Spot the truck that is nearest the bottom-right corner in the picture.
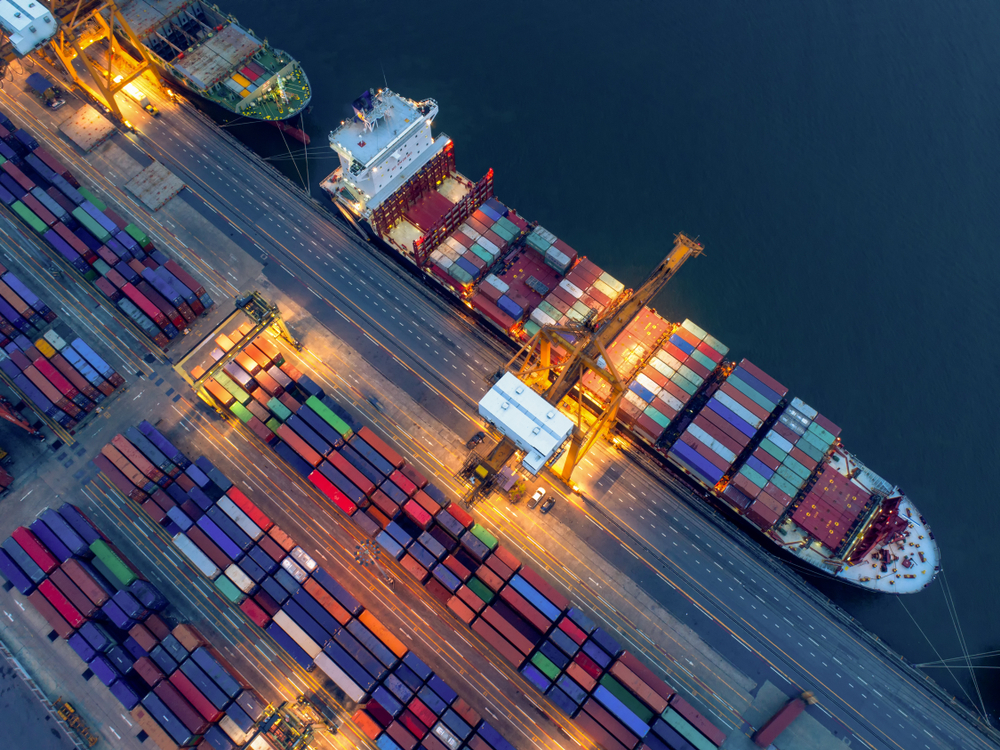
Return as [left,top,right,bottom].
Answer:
[755,687,819,748]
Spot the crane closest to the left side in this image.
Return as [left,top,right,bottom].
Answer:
[0,0,174,128]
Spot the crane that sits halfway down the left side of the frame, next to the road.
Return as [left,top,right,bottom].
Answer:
[168,289,306,422]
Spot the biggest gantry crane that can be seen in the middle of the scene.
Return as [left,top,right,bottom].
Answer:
[443,224,709,520]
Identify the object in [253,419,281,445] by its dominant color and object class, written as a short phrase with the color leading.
red shipping container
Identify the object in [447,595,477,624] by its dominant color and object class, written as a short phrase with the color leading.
red shipping container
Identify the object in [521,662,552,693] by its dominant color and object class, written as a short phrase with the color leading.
blue shipping container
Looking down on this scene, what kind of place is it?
port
